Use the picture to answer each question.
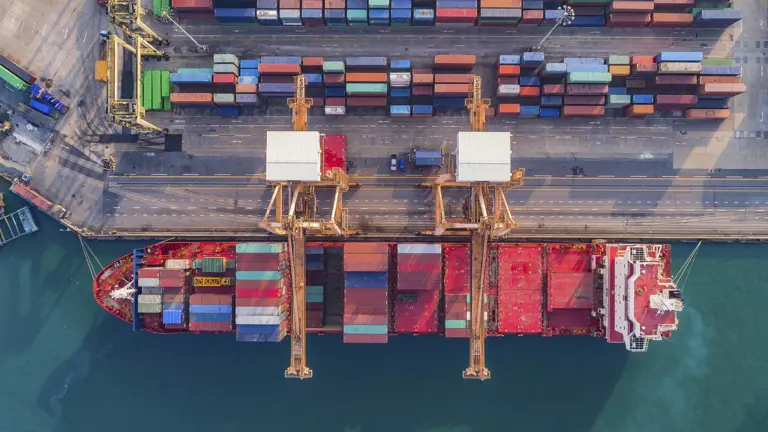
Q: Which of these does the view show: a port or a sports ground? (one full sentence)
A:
This image shows a port.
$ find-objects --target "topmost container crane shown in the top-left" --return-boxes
[108,0,170,44]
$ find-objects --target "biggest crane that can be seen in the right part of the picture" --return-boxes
[415,74,528,380]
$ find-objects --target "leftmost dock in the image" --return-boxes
[0,206,39,248]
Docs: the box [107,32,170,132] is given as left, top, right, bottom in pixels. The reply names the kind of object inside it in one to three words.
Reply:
container crane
